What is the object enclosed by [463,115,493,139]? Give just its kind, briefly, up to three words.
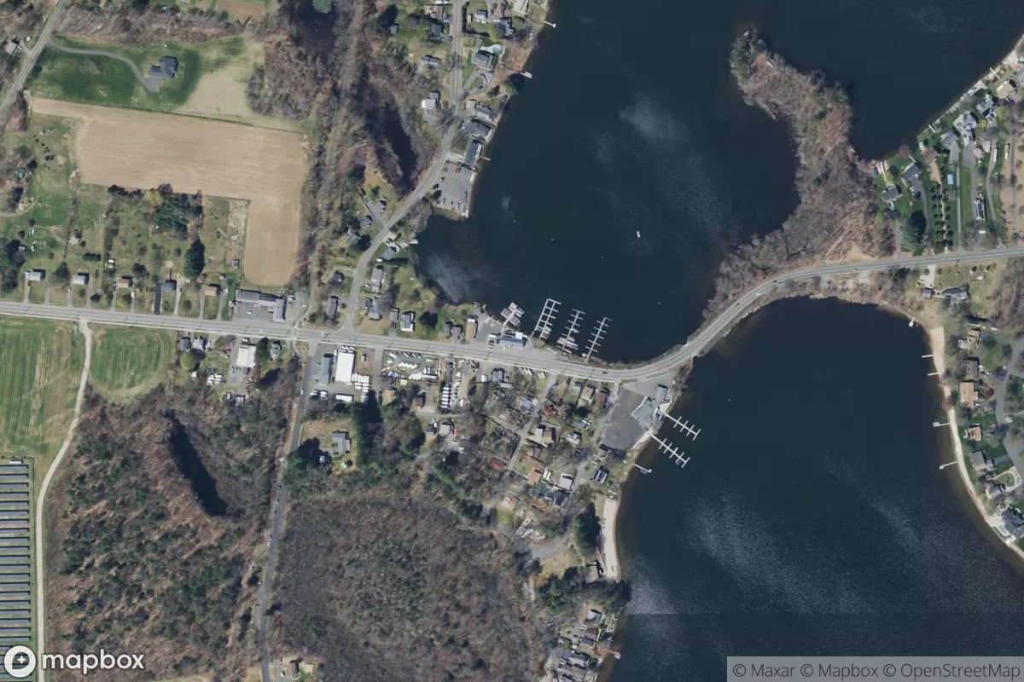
house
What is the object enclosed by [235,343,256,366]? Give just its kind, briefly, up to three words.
building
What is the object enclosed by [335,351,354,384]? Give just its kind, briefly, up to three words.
building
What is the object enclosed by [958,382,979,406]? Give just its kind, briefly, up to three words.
house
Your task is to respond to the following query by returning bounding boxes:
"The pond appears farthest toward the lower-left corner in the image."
[167,410,229,517]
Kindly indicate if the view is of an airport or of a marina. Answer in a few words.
marina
